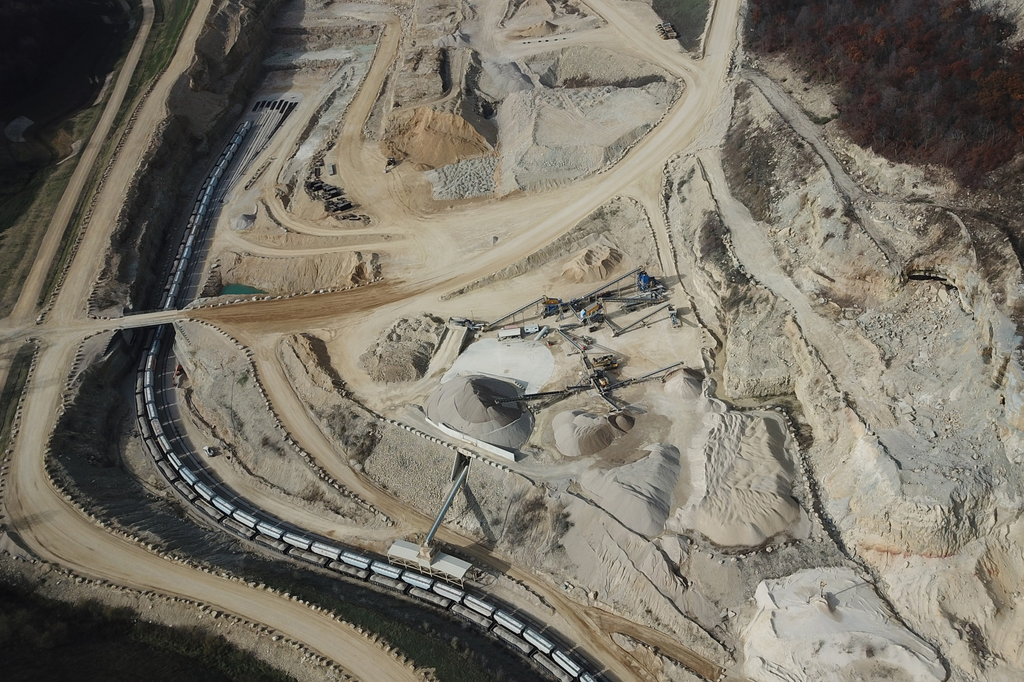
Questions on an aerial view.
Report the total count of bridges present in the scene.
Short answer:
1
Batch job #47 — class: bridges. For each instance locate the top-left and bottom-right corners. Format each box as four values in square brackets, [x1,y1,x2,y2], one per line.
[102,307,190,356]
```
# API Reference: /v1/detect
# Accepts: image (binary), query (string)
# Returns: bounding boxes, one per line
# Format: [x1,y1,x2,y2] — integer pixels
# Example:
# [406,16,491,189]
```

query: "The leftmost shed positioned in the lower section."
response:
[384,535,470,590]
